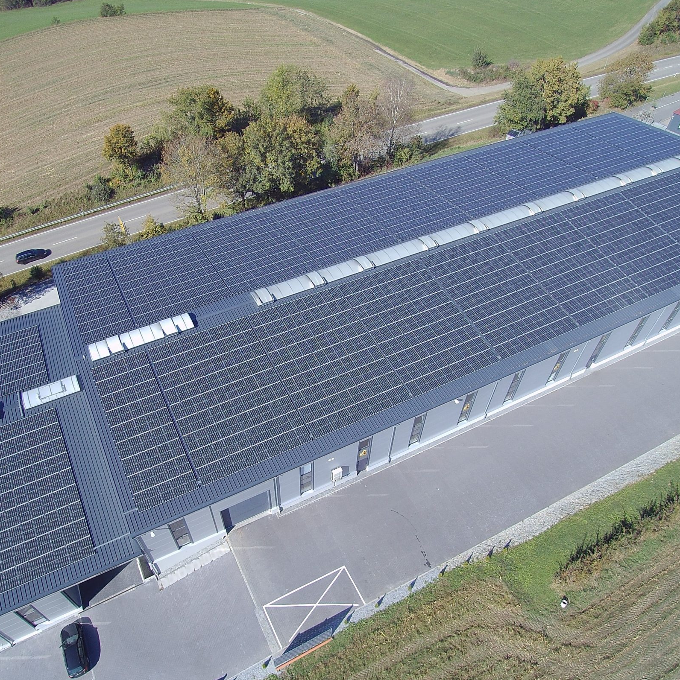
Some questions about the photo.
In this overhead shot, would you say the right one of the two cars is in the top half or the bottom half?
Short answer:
bottom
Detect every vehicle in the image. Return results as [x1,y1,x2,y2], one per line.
[58,618,88,679]
[12,247,50,266]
